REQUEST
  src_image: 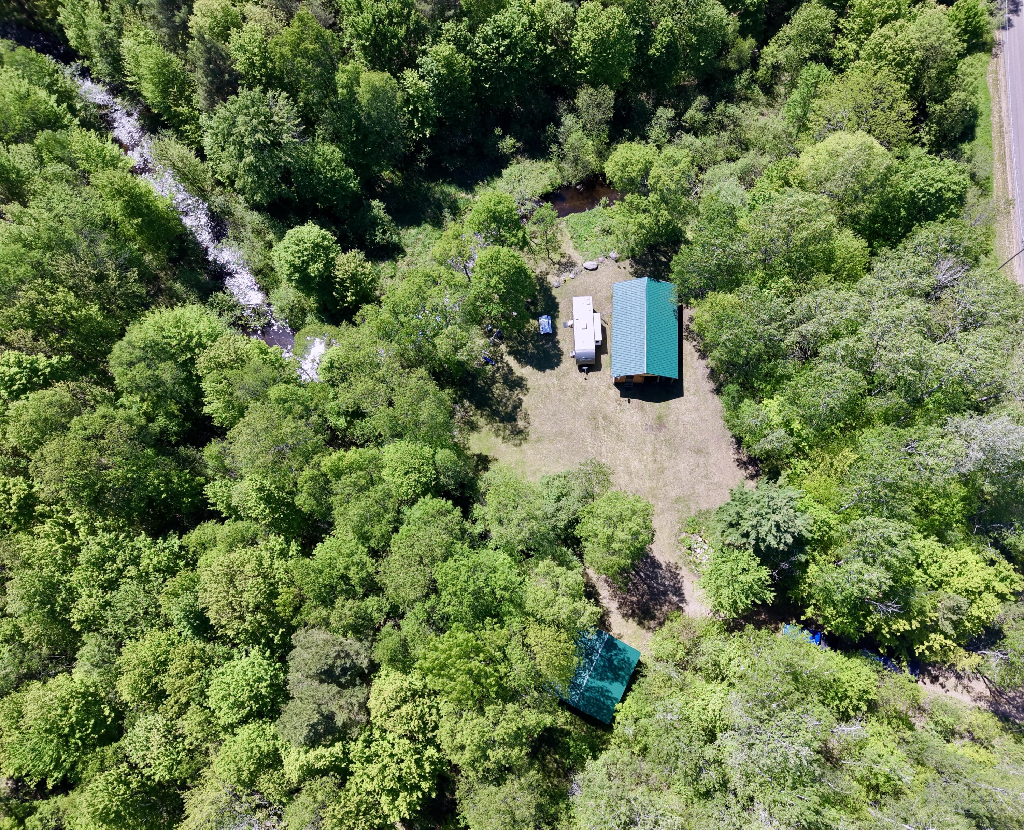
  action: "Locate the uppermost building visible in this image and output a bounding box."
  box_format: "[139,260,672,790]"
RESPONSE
[611,279,678,392]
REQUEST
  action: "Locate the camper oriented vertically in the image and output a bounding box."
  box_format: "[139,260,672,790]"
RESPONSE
[572,296,602,375]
